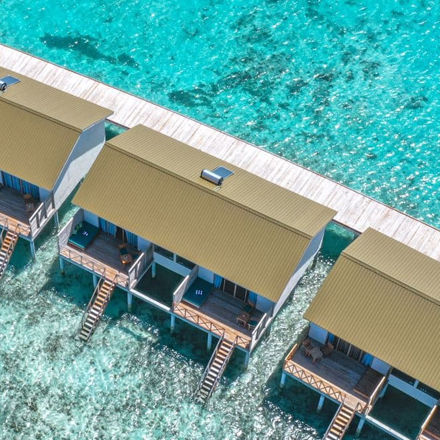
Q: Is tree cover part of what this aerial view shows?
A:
No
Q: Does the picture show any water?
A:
Yes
